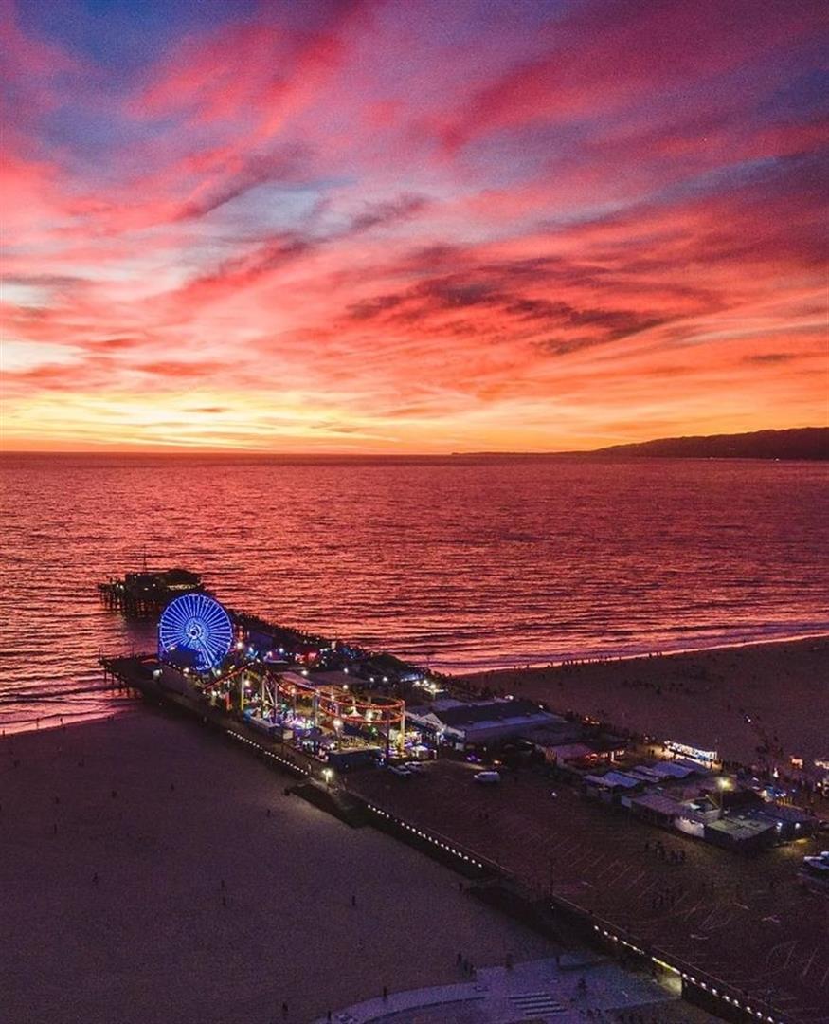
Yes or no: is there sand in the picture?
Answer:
Yes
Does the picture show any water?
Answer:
Yes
